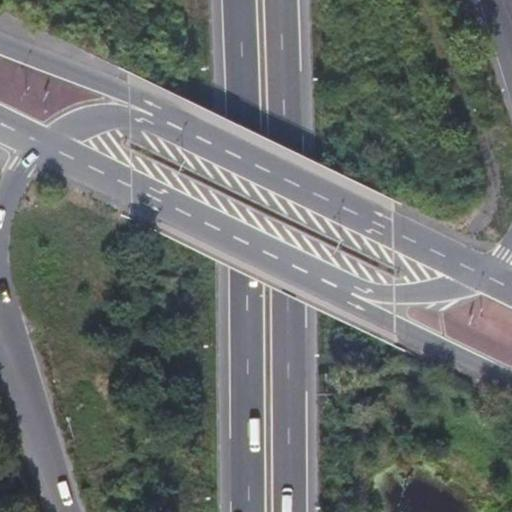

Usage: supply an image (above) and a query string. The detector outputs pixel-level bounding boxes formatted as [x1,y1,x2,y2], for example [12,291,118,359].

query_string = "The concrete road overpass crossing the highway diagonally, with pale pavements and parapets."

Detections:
[116,66,408,352]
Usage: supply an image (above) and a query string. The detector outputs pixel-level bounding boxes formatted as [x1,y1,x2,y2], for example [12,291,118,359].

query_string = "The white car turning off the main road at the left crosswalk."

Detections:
[20,148,40,168]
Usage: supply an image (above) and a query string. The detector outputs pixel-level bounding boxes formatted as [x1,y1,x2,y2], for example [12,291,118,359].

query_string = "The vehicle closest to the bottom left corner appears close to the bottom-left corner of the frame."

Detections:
[58,480,72,506]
